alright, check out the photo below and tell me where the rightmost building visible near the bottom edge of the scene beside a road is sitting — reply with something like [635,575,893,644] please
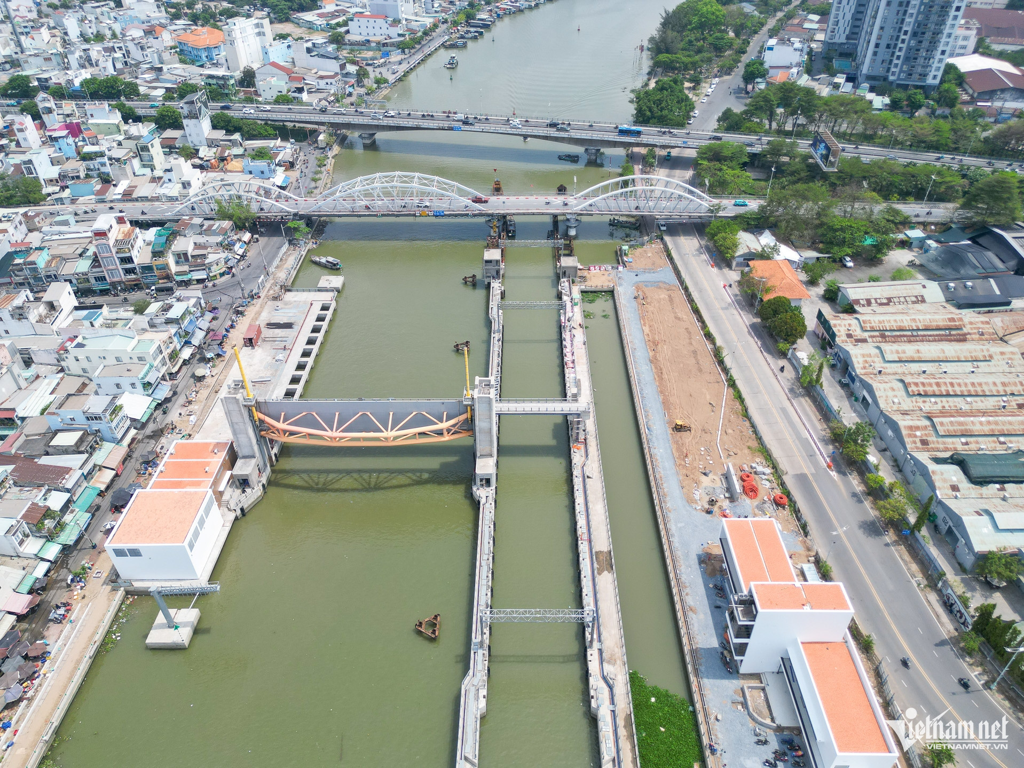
[707,520,897,768]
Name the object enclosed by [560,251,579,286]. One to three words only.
building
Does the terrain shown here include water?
Yes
